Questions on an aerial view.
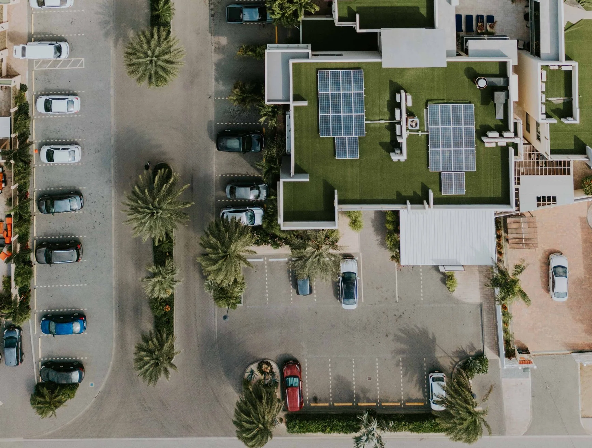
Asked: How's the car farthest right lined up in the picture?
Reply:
vertically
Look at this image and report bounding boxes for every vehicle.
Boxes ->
[280,360,304,414]
[217,130,265,153]
[220,203,264,227]
[30,0,73,10]
[40,361,85,385]
[41,143,81,165]
[37,94,80,116]
[41,312,86,337]
[39,191,83,216]
[1,327,24,367]
[14,40,70,61]
[37,240,82,267]
[428,370,446,410]
[226,180,268,203]
[547,252,571,301]
[293,253,314,296]
[338,258,361,309]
